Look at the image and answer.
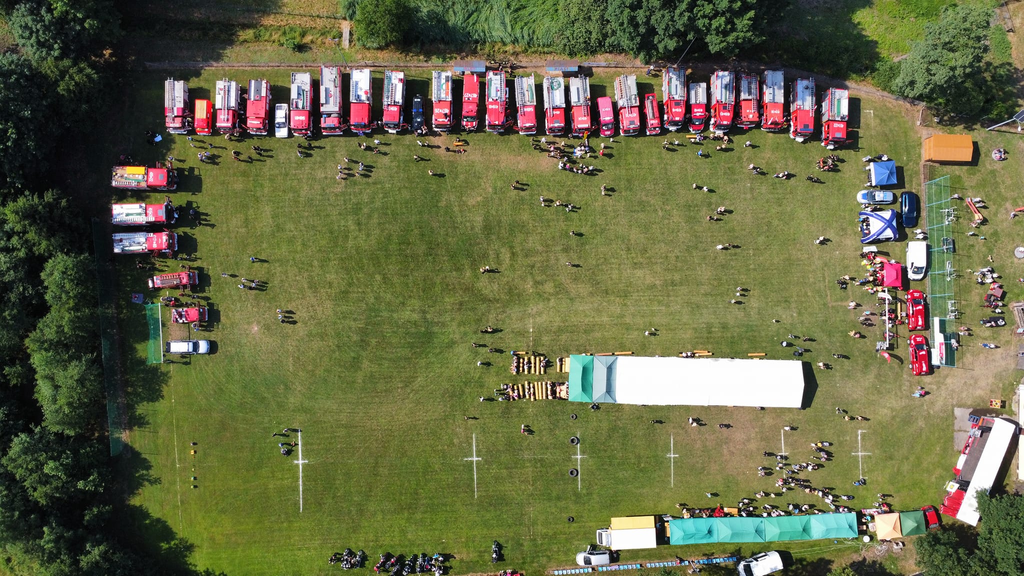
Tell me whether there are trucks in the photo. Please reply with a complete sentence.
Yes, I can see a truck in this picture.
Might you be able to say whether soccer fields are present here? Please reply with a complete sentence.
Yes, the picture does show a soccer field.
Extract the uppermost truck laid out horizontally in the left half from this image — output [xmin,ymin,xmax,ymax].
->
[111,162,180,191]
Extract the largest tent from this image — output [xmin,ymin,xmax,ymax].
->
[614,355,804,408]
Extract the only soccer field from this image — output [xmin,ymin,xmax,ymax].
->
[150,106,895,559]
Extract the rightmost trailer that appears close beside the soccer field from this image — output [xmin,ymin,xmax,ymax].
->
[933,414,1014,526]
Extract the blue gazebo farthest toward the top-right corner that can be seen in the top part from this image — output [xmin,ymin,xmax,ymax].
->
[863,161,897,189]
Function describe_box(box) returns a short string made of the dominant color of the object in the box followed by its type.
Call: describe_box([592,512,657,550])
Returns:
white truck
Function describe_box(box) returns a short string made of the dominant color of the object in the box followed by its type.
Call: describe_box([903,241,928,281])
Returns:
white vehicle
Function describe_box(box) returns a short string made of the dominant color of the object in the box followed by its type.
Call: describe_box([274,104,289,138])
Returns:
white car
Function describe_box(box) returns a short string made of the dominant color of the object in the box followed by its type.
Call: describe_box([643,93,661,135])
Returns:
red vehicle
